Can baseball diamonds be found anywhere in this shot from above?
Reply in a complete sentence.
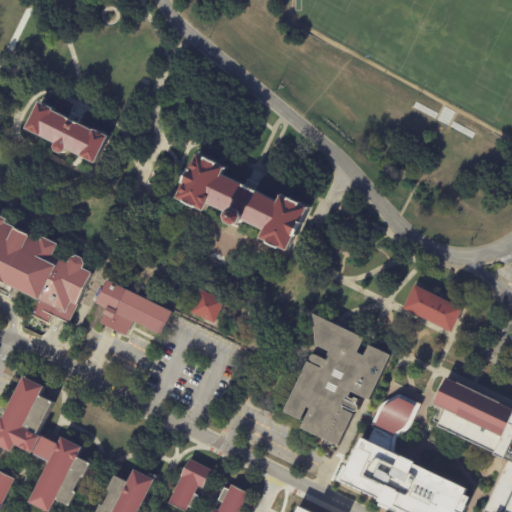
No, no baseball diamond is visible in the view.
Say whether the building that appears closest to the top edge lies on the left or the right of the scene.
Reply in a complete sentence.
The building that appears closest to the top edge sits on the left side.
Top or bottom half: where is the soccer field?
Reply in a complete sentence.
The top half of the photo is where the soccer field is.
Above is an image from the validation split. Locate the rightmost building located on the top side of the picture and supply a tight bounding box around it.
[178,154,307,250]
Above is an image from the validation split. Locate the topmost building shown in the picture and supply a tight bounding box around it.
[20,100,106,163]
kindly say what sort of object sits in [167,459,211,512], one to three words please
house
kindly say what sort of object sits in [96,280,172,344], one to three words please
building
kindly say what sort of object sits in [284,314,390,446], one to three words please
building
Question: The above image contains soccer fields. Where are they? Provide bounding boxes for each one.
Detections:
[298,0,512,128]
